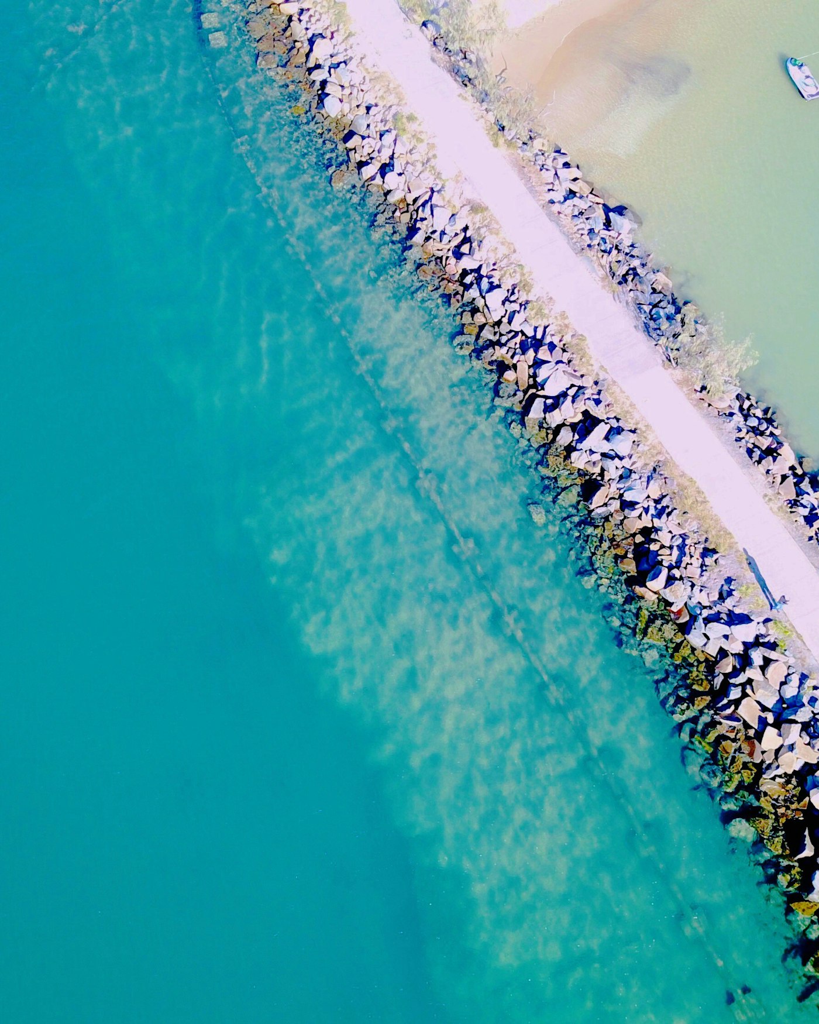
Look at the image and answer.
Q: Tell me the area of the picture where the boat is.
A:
top right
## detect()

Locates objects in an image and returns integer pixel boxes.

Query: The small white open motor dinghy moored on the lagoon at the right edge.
[788,56,819,109]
